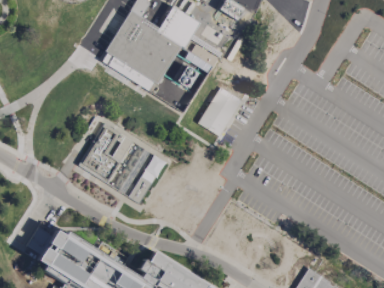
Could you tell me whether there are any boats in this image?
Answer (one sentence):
No, there is no boat in the image.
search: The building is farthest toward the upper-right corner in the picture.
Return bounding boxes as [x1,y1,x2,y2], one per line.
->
[220,0,246,20]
